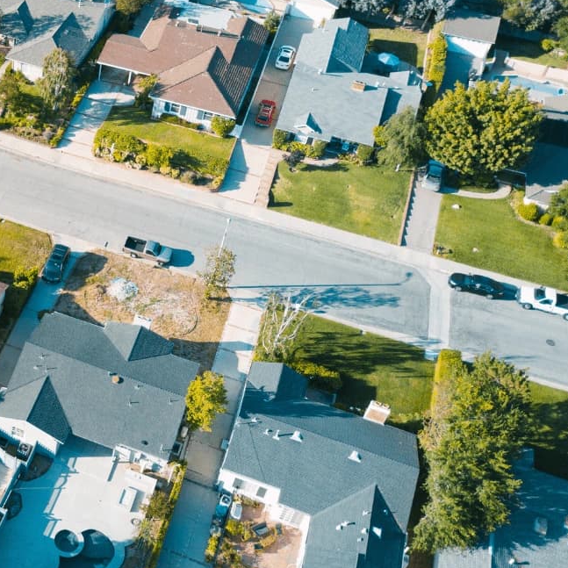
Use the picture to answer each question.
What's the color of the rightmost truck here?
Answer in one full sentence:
In this view, the rightmost truck is white.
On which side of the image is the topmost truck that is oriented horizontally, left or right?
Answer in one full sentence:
It is on the left.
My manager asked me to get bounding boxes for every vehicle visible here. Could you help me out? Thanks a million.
[273,43,297,71]
[449,276,506,303]
[254,97,279,129]
[520,289,568,321]
[37,241,74,286]
[419,153,447,193]
[119,235,176,267]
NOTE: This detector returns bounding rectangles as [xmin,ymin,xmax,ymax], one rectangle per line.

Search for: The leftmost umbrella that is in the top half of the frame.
[377,56,399,76]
